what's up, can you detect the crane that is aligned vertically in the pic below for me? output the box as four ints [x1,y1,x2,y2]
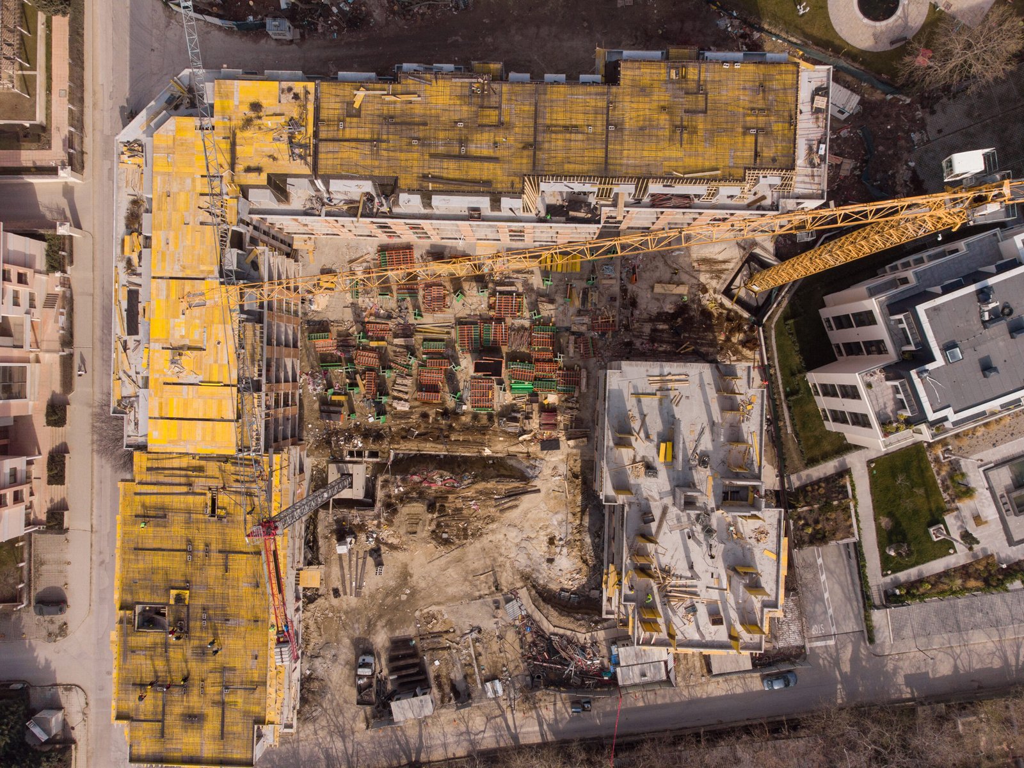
[176,0,370,676]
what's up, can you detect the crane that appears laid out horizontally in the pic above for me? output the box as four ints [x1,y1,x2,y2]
[174,146,1024,320]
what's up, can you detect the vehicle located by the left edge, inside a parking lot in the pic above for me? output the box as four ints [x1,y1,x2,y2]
[32,601,63,617]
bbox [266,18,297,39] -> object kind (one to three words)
building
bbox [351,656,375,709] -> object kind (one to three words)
truck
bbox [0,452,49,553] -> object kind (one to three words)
house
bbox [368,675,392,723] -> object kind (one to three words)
work vehicle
